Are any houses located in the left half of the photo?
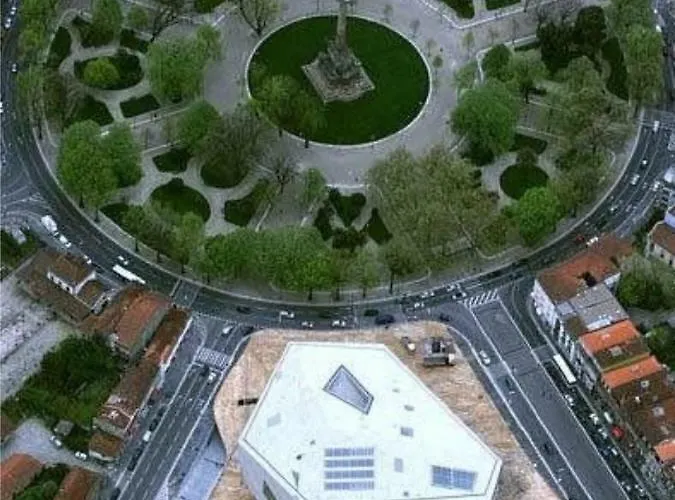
Yes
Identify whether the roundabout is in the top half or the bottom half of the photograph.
top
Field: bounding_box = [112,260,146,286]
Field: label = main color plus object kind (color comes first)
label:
white bus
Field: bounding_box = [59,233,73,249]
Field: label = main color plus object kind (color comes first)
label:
white vehicle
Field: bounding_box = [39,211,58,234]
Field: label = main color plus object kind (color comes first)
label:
white vehicle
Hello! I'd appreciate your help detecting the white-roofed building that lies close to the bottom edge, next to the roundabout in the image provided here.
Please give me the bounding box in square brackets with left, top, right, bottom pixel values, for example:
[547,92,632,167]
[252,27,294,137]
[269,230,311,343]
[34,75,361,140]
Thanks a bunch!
[240,340,502,500]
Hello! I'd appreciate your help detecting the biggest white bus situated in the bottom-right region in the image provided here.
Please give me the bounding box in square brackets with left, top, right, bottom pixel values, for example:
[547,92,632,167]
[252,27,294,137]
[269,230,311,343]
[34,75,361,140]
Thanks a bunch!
[551,350,580,387]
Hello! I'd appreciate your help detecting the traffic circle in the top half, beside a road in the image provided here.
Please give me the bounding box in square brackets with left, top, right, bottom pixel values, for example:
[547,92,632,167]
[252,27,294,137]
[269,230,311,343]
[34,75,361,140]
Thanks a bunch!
[0,0,675,333]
